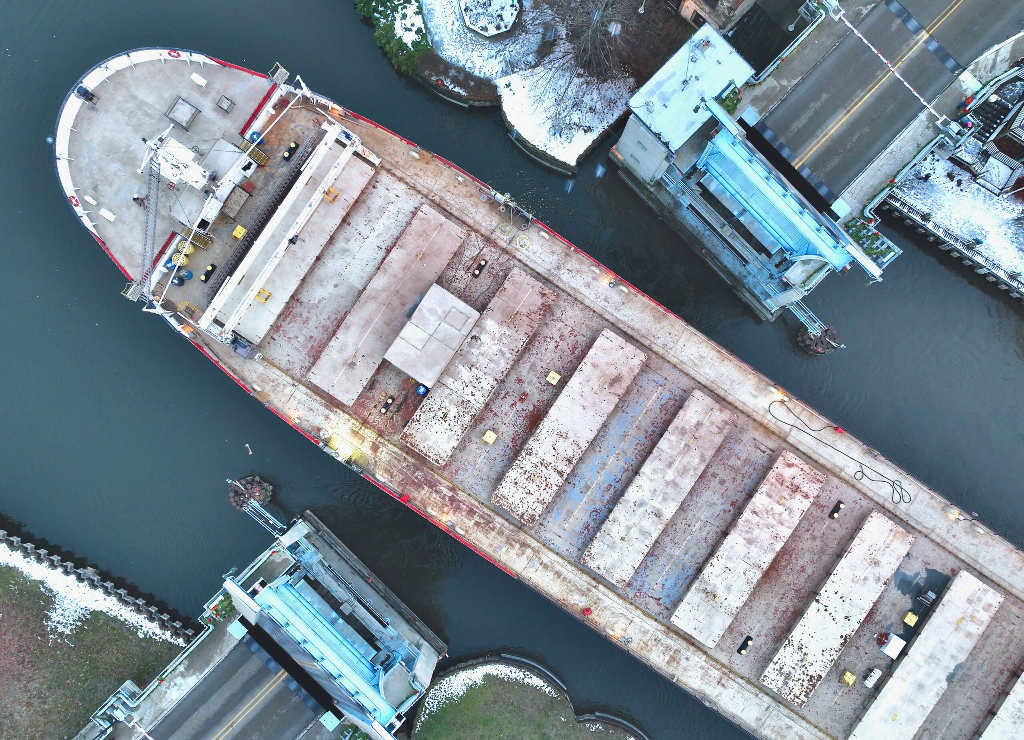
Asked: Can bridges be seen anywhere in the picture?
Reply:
Yes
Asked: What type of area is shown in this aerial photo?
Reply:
port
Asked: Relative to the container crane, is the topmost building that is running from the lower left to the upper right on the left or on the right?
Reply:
right of it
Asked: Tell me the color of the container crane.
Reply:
white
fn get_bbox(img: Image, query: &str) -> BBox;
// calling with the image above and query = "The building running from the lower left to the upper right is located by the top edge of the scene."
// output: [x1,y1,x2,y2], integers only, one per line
[599,22,756,183]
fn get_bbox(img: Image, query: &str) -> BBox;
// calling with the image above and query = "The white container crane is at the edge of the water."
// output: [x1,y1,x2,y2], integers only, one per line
[175,106,385,363]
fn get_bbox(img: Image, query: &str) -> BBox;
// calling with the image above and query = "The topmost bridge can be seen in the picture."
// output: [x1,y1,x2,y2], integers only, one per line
[616,102,883,322]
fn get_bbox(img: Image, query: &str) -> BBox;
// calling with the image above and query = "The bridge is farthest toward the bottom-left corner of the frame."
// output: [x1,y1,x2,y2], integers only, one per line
[220,508,451,740]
